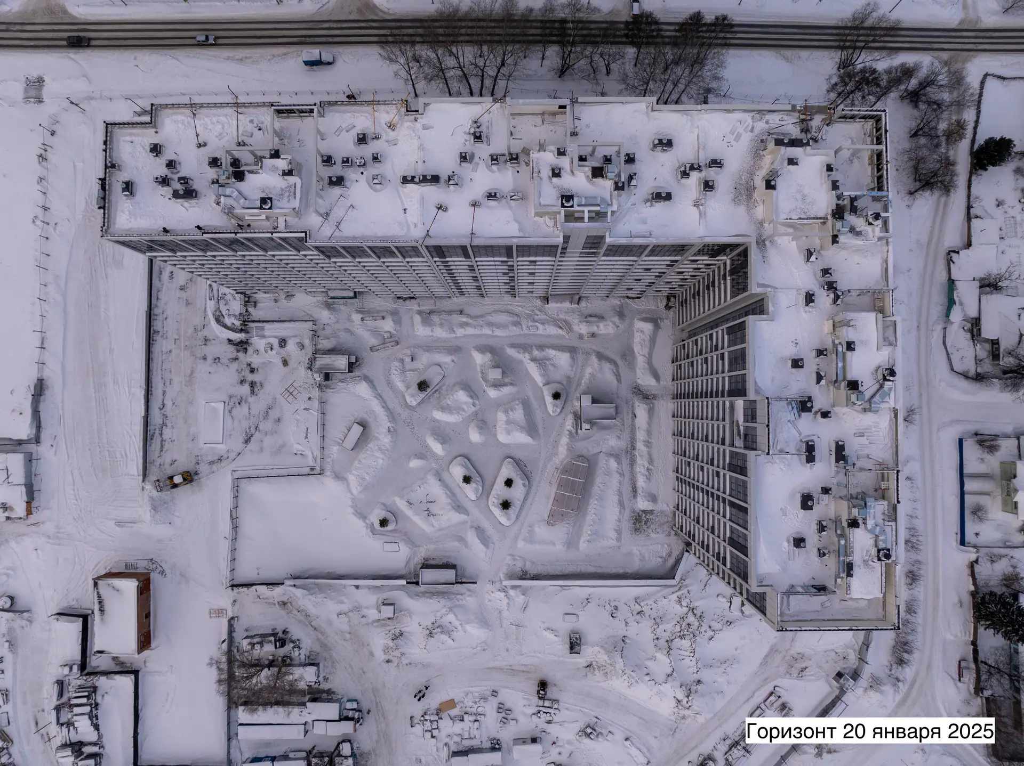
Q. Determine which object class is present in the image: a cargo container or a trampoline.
cargo container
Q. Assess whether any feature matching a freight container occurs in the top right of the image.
No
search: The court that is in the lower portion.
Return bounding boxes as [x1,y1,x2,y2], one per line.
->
[547,457,589,525]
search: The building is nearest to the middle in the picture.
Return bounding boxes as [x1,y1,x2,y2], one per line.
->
[579,394,615,429]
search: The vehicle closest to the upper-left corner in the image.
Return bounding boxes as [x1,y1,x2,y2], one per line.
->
[65,34,91,48]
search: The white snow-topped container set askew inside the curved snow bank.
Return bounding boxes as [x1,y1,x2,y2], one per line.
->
[341,421,366,450]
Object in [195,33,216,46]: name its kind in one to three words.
vehicle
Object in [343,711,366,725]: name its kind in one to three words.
vehicle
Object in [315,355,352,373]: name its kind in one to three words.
building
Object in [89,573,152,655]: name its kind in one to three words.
house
